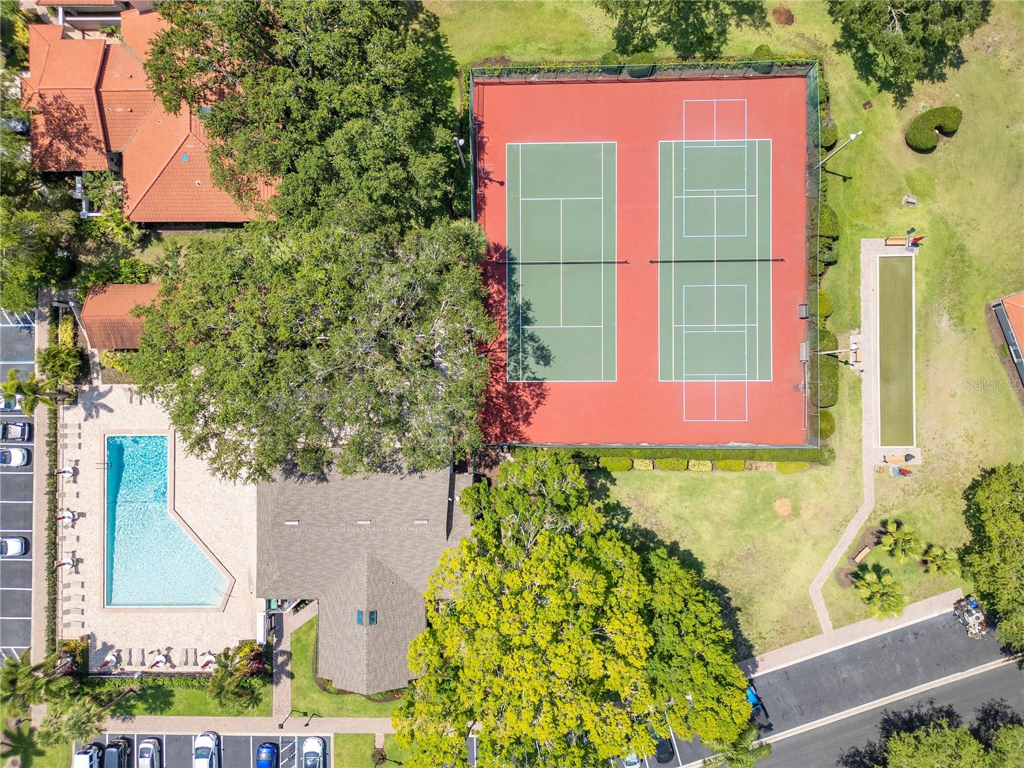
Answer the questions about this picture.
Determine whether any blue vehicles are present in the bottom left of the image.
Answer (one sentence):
Yes, in the bottom left of the image there is a blue vehicle.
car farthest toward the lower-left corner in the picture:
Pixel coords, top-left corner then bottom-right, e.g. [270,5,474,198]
[74,741,103,768]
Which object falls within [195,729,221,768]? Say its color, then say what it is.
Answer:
white car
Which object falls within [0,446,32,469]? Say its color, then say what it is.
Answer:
white car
